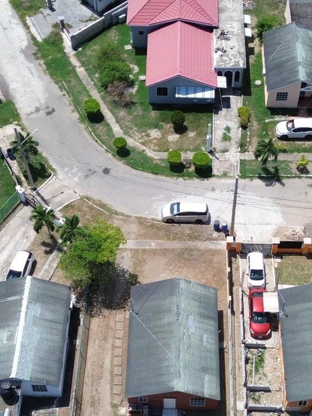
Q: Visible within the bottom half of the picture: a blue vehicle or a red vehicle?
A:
red vehicle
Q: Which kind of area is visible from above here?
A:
residential area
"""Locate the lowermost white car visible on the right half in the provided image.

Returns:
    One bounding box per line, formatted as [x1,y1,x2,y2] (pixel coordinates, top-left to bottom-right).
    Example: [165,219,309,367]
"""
[245,251,269,294]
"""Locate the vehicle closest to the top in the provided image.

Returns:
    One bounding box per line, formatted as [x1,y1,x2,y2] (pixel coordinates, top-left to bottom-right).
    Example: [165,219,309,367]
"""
[275,120,312,142]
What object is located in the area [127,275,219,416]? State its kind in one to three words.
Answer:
house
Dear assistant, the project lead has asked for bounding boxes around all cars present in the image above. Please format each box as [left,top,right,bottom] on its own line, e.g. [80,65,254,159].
[275,120,312,142]
[249,294,274,343]
[245,251,269,294]
[2,245,37,282]
[161,203,211,226]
